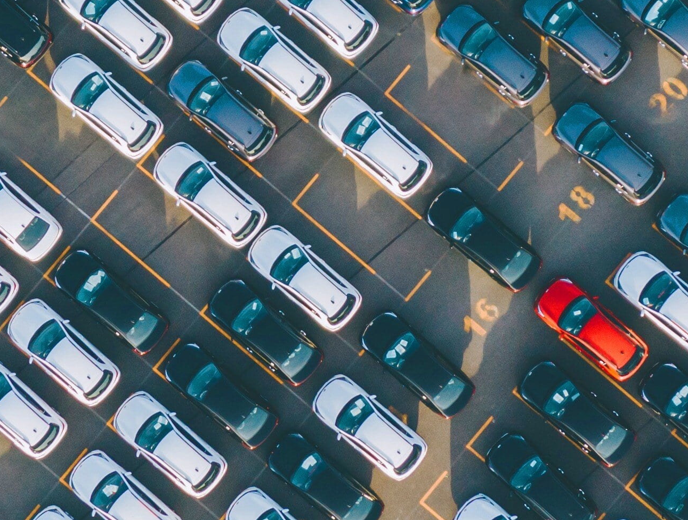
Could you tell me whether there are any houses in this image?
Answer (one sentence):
No, the scene contains no house.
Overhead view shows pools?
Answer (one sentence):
No, there's no pool here.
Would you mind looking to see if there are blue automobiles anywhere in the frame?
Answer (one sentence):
Yes, there is a blue automobile in the image.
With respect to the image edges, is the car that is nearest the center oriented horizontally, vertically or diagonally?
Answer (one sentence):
From this overhead view, the car that is nearest the center appears to run diagonally.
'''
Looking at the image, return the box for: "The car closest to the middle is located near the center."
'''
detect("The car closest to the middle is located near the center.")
[249,227,364,332]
